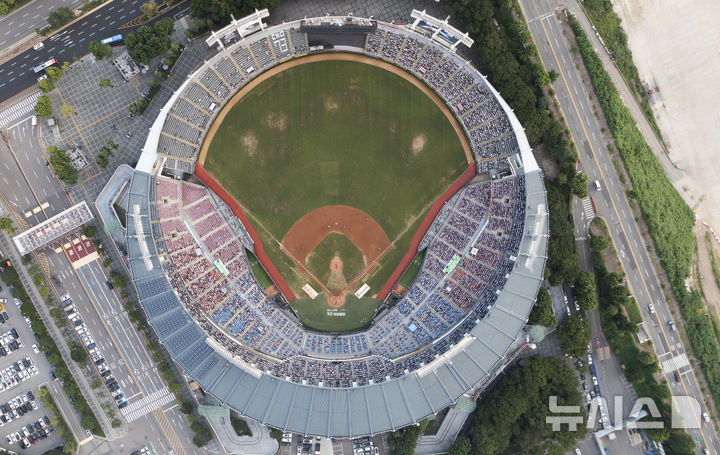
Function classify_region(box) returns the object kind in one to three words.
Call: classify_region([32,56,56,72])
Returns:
vehicle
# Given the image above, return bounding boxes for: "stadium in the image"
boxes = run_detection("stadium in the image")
[94,0,567,455]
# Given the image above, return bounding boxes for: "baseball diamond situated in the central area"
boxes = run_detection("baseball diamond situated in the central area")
[197,52,475,334]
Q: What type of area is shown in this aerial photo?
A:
sports ground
